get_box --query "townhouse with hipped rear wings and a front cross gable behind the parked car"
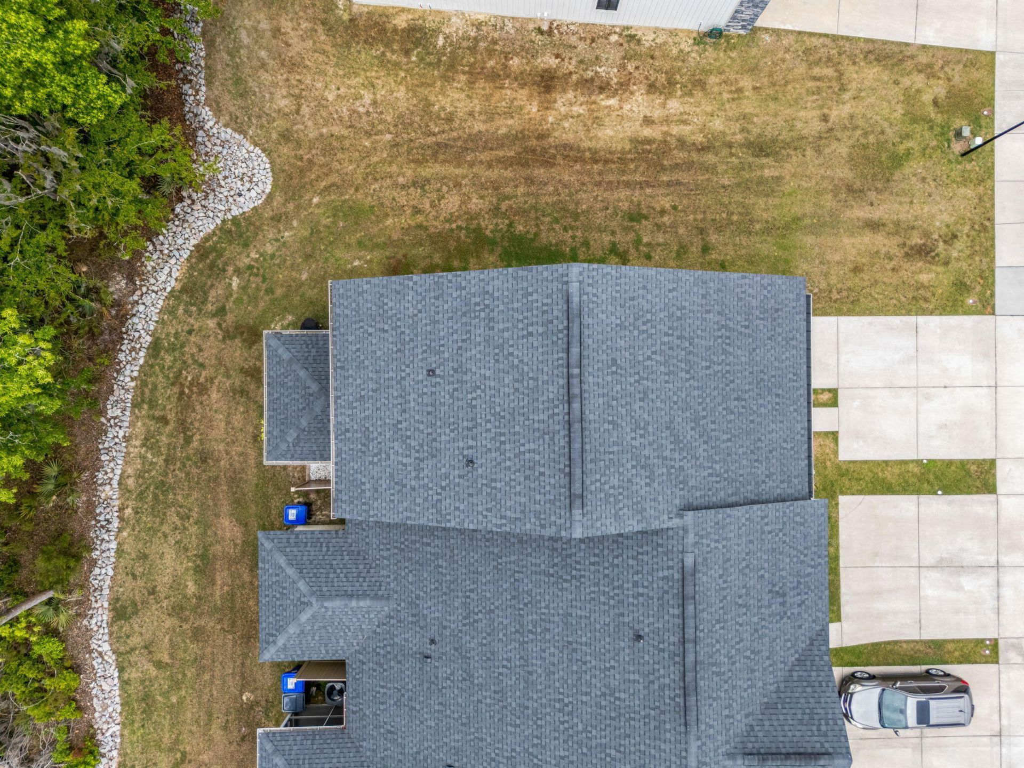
[256,498,855,768]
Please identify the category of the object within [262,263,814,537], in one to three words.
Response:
house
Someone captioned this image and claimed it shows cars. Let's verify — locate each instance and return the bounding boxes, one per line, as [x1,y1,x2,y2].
[841,669,977,741]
